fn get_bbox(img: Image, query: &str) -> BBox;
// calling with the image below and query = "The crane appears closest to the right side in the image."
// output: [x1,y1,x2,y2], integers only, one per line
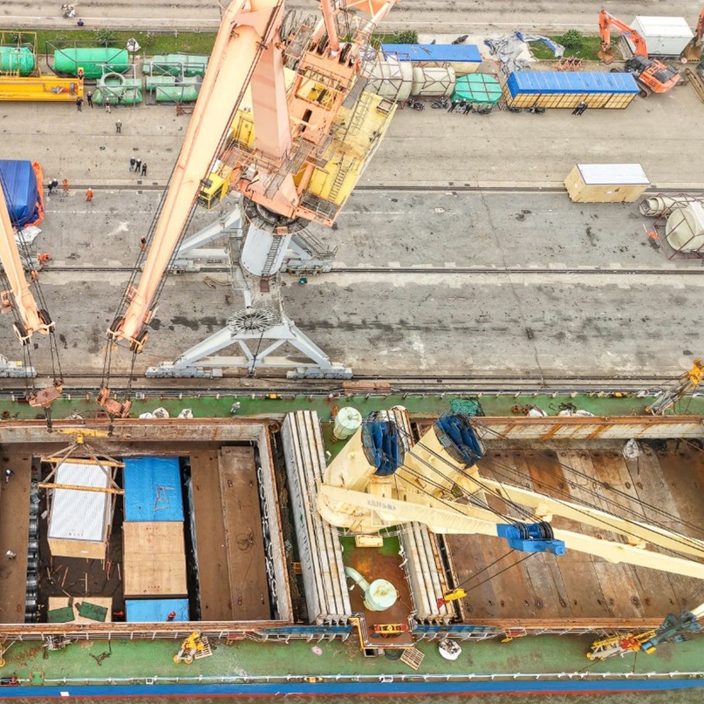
[88,0,409,429]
